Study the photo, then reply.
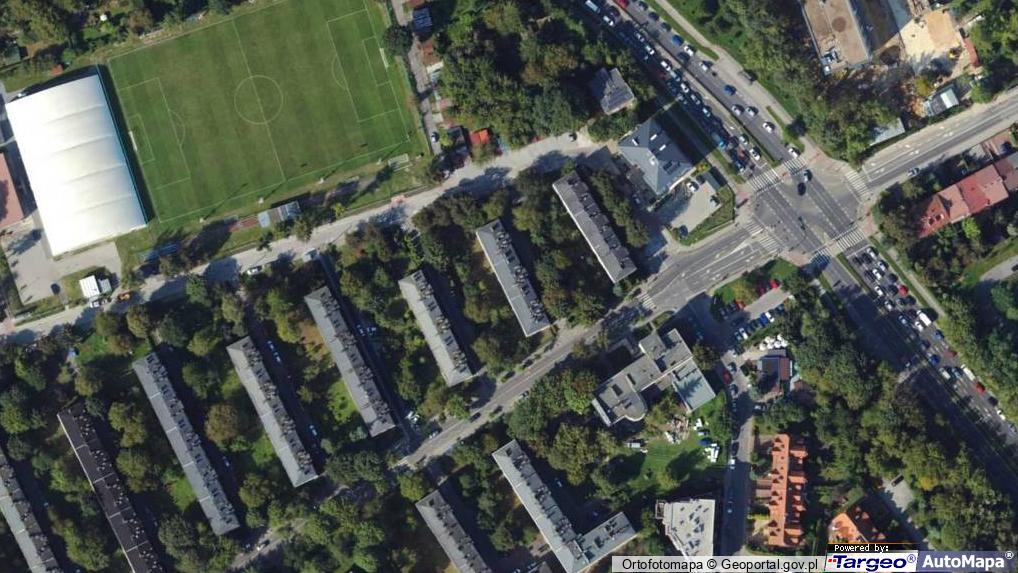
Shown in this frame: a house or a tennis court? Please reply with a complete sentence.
It is a house that can be seen here.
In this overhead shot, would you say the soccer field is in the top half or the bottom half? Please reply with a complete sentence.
The soccer field is in the top half of the image.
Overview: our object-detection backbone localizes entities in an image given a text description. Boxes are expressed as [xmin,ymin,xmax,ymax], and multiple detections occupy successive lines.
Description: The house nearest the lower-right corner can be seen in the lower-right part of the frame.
[830,500,883,555]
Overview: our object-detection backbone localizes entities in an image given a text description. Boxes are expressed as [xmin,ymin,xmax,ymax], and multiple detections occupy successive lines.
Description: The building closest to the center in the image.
[475,221,549,338]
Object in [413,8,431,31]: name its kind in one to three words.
building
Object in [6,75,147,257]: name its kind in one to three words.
building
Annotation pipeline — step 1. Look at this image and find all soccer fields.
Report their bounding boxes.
[103,0,415,227]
